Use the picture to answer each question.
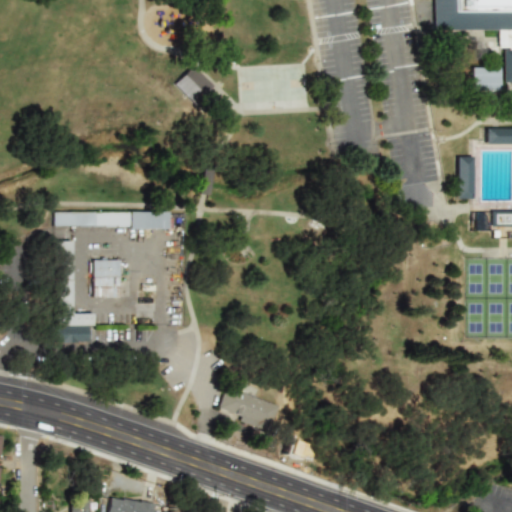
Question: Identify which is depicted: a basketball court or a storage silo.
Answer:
basketball court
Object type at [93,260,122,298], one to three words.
building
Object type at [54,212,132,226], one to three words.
shed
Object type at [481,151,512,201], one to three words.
swimming pool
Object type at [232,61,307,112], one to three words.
basketball court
